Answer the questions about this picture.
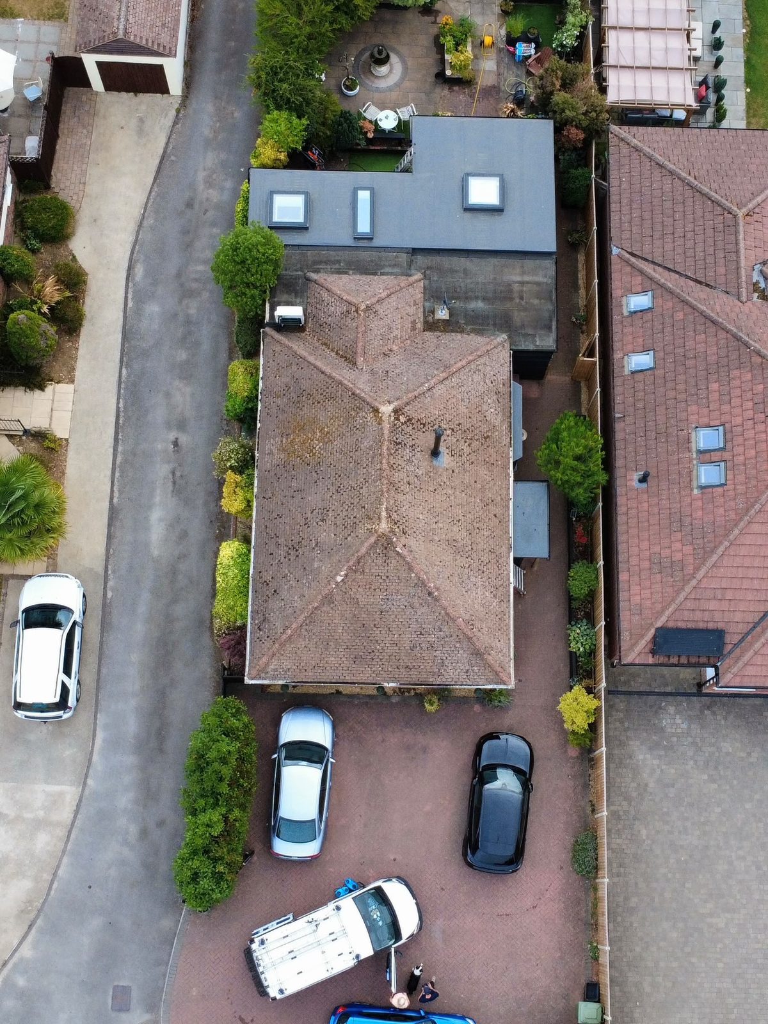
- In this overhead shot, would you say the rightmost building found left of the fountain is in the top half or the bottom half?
top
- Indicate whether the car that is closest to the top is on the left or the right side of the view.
left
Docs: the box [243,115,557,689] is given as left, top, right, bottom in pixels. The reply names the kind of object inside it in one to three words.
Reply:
house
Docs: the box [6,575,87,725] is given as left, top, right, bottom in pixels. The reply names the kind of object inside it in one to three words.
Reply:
car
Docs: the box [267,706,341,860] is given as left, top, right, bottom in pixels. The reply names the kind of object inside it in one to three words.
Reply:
car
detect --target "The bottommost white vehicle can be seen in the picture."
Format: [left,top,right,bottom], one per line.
[240,875,425,1002]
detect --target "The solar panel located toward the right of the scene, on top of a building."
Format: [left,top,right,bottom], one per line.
[654,629,726,665]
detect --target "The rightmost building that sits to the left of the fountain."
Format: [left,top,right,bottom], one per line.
[77,0,188,96]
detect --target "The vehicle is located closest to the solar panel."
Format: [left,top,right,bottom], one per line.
[462,732,546,874]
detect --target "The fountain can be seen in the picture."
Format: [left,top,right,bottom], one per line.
[373,49,394,79]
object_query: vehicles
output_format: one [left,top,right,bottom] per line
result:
[267,706,341,860]
[462,732,546,874]
[240,875,425,1002]
[332,1002,471,1024]
[6,575,87,725]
